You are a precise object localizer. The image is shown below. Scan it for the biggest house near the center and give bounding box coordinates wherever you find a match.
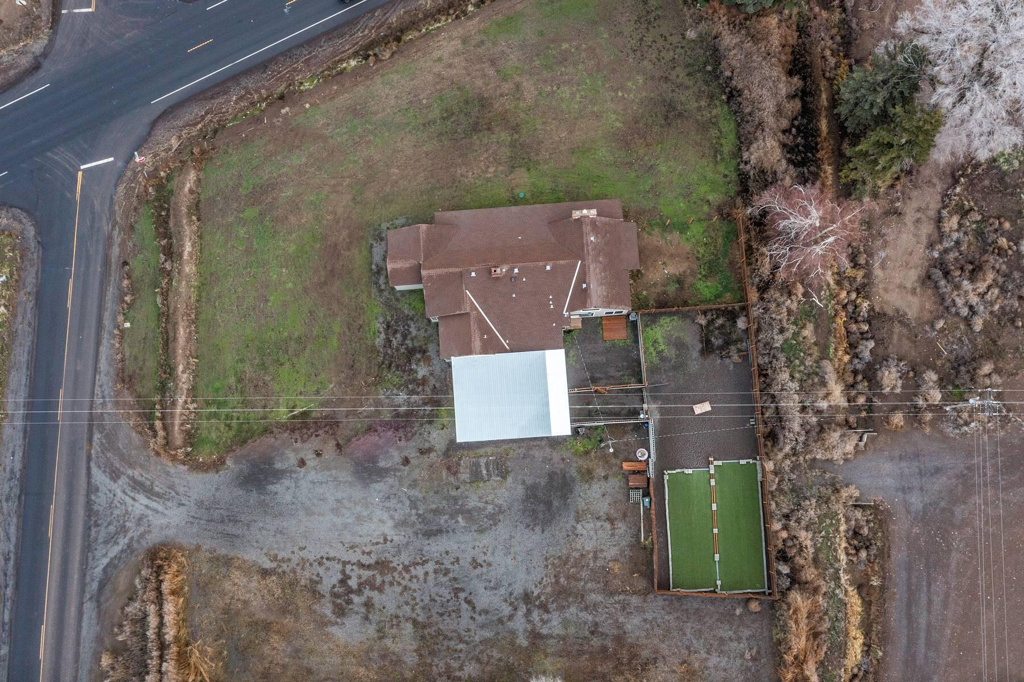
[387,199,639,361]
